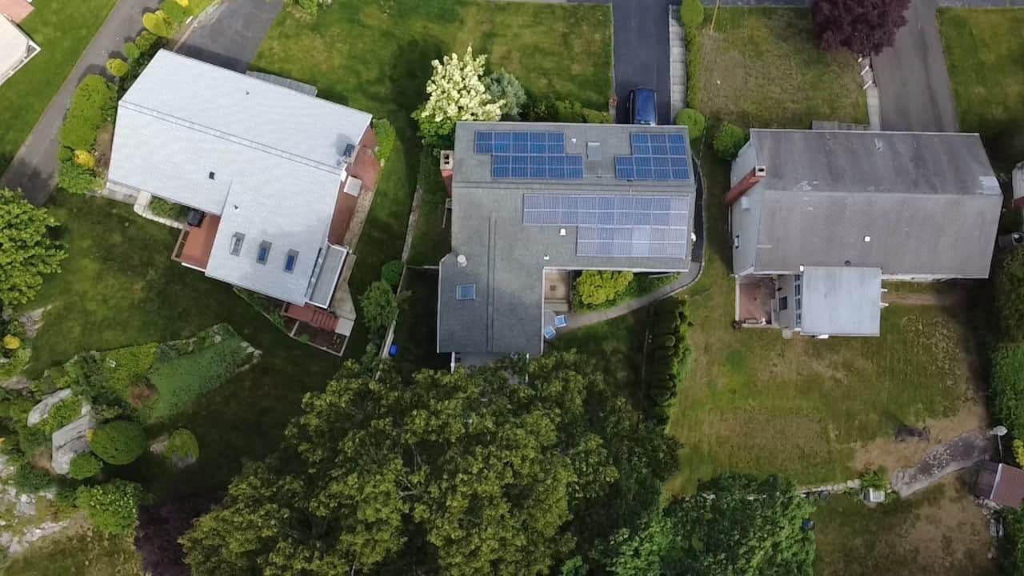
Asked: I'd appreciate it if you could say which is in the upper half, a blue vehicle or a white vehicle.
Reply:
blue vehicle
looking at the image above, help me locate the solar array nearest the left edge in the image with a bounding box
[474,130,584,178]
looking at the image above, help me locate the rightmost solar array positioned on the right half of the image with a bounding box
[614,130,690,178]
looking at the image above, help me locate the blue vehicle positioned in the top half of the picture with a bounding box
[630,88,660,122]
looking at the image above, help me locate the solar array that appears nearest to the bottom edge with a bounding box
[523,193,690,256]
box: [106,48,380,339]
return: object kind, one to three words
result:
house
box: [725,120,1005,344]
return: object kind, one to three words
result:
house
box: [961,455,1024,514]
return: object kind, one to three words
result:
shed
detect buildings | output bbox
[106,48,380,339]
[961,455,1024,514]
[0,0,49,96]
[725,120,1005,344]
[436,122,697,386]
